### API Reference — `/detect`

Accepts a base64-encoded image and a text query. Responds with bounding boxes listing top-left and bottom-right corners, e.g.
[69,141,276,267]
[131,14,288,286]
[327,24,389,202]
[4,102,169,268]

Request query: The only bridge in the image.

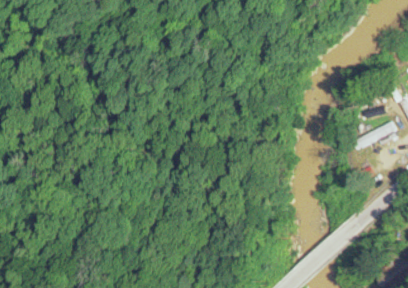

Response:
[276,217,364,288]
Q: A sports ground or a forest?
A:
forest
